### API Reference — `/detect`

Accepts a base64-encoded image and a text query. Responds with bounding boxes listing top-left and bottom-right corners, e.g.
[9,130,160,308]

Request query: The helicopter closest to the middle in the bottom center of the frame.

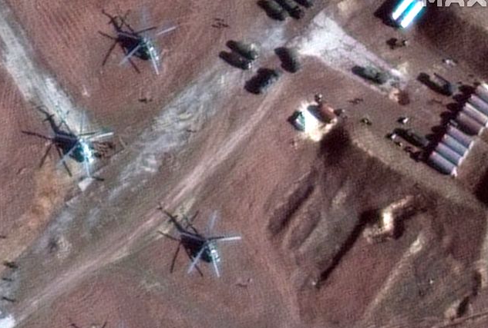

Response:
[174,209,241,273]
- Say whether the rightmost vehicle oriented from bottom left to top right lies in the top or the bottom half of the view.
top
